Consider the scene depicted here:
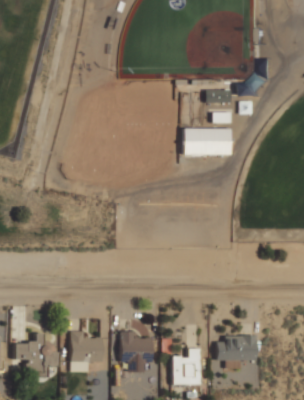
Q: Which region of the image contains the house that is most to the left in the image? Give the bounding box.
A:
[16,332,59,378]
